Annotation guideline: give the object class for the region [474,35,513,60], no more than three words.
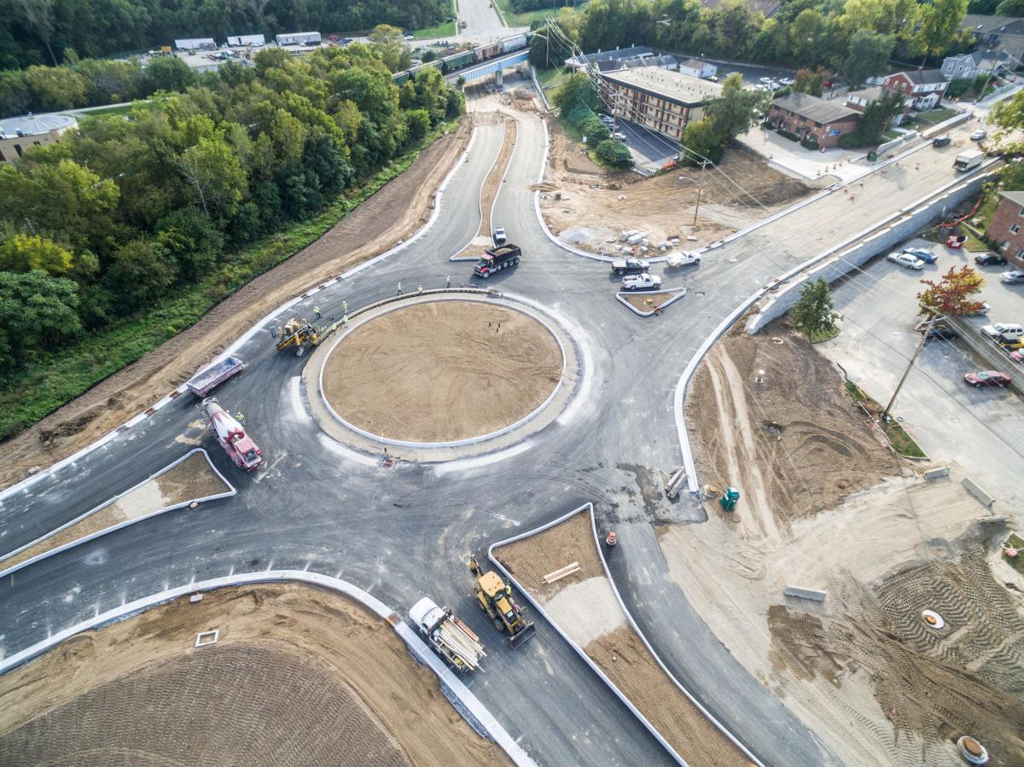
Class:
rail car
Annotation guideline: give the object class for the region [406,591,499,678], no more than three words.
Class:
truck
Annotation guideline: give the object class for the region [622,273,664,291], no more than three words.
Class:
vehicle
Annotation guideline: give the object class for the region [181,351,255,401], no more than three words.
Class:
trailer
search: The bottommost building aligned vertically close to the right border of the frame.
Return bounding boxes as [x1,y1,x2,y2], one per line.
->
[979,192,1024,291]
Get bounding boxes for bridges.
[456,51,539,90]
